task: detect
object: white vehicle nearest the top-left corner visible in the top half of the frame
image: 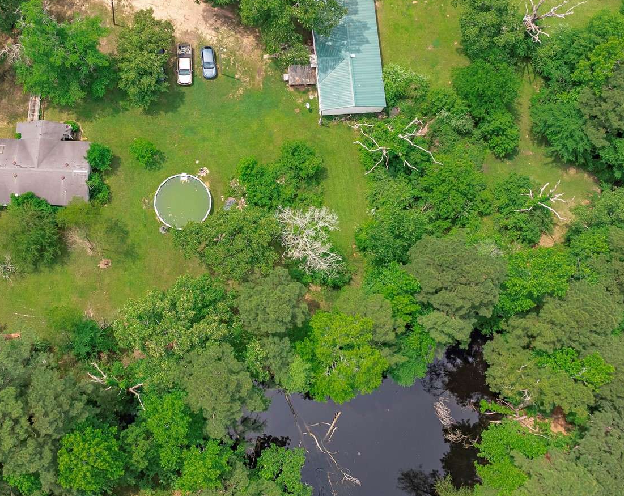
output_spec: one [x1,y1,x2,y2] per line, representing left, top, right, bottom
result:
[175,43,194,87]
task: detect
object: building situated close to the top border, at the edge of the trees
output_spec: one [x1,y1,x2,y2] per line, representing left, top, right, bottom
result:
[312,0,387,119]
